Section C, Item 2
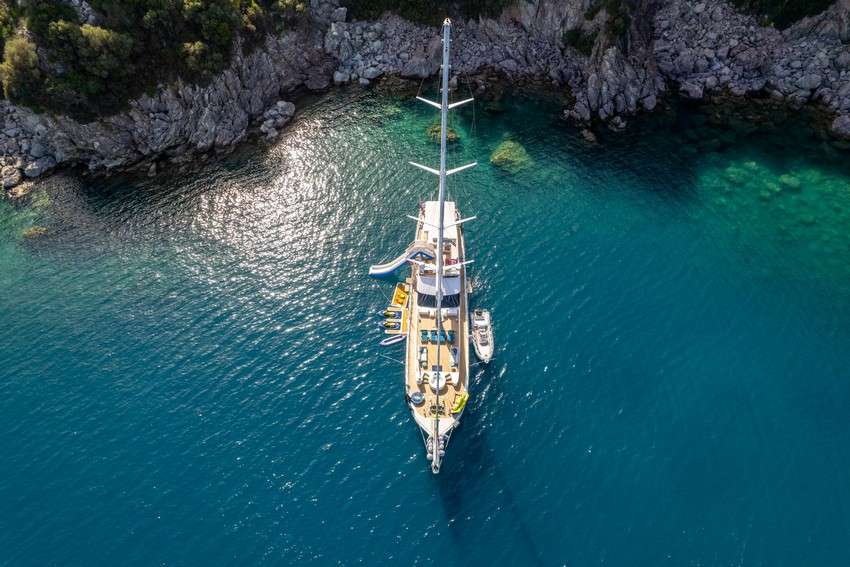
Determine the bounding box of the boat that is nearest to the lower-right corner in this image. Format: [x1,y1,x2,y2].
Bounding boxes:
[471,306,493,363]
